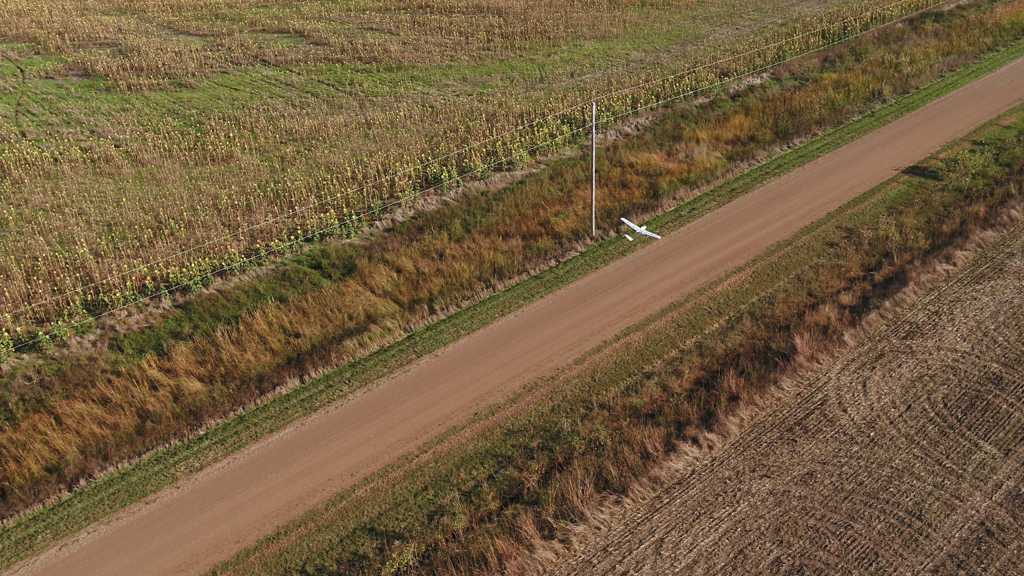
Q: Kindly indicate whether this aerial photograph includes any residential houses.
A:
No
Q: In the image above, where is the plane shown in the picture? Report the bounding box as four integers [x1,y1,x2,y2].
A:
[620,217,661,238]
